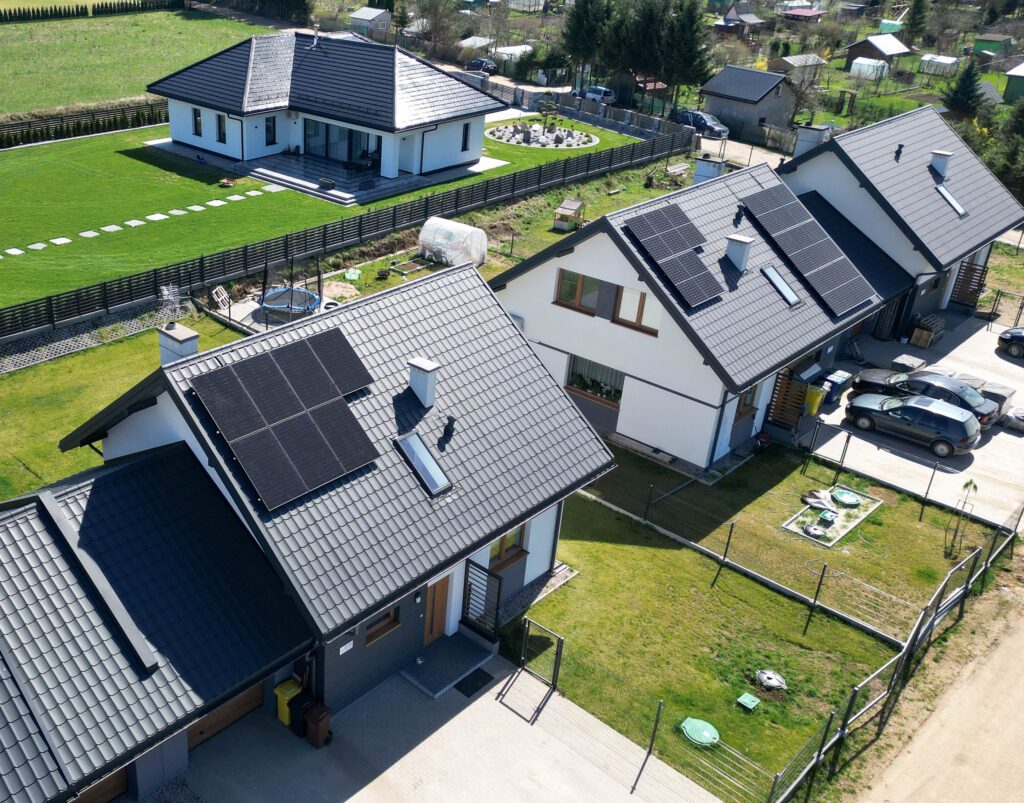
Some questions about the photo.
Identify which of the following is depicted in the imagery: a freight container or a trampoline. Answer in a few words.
trampoline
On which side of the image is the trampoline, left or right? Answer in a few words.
left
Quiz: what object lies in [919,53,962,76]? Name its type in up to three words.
greenhouse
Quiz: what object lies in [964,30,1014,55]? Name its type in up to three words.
shed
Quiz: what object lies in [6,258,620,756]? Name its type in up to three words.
house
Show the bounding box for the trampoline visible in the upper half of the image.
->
[255,248,323,325]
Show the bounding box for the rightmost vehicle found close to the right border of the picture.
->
[998,319,1024,355]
